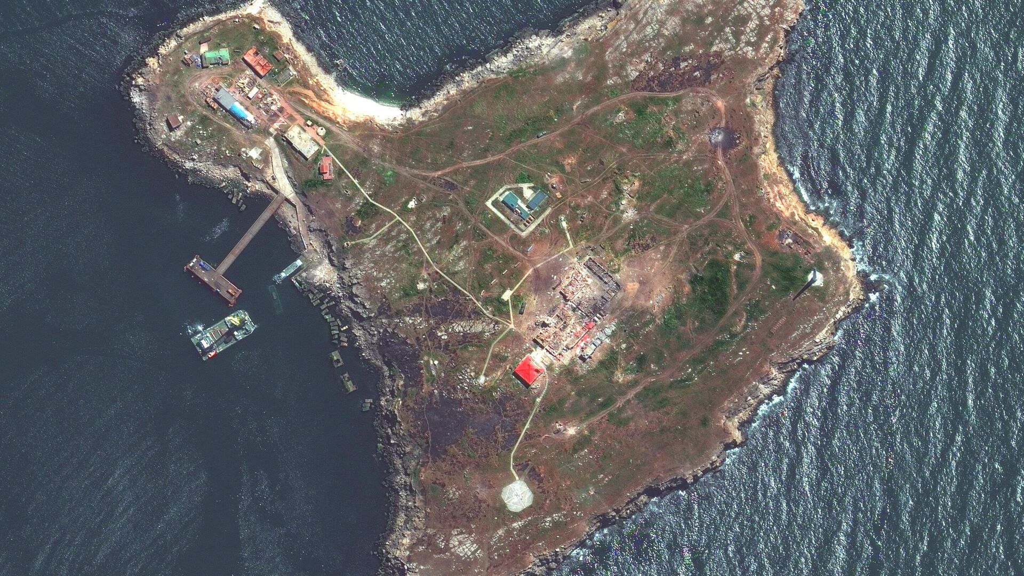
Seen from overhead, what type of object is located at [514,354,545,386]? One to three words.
house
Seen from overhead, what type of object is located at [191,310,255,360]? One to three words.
ship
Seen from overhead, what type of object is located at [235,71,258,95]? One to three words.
house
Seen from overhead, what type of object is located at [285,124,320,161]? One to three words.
building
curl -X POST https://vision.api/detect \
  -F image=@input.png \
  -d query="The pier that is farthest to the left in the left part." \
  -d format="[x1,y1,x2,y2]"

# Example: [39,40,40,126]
[184,196,281,307]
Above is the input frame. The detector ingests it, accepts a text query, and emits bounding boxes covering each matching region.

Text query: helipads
[501,480,534,512]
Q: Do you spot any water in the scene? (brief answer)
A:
Yes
